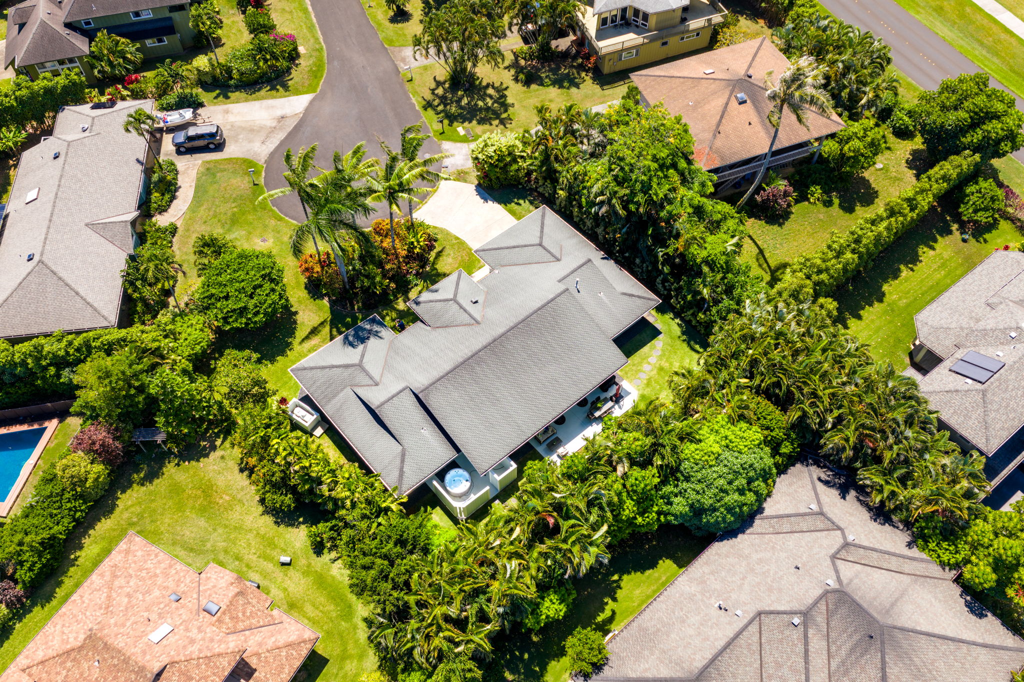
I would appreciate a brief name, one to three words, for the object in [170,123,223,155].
car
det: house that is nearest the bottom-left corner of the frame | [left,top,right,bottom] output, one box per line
[0,531,322,682]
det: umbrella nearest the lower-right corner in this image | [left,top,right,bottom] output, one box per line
[615,384,628,411]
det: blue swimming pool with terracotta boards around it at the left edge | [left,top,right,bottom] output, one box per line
[0,414,64,517]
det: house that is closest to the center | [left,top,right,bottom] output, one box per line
[290,204,661,499]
